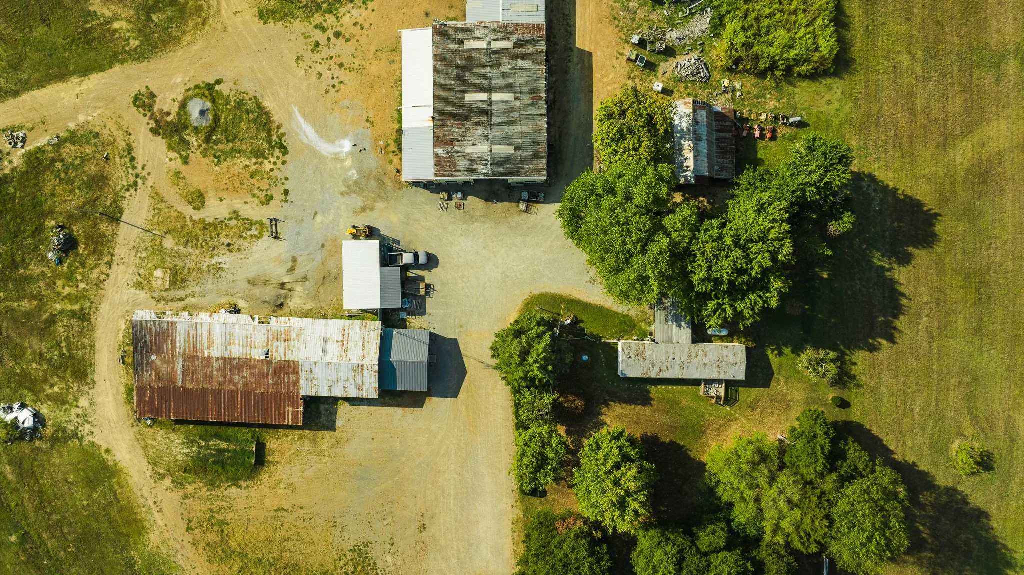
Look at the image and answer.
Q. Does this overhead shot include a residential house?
Yes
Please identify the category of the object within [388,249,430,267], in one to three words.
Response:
vehicle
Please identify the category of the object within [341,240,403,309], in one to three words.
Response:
shed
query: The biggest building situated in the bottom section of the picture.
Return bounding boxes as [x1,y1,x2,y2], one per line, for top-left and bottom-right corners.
[128,311,385,425]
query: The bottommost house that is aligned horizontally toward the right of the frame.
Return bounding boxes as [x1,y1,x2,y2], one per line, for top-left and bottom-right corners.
[618,341,746,380]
